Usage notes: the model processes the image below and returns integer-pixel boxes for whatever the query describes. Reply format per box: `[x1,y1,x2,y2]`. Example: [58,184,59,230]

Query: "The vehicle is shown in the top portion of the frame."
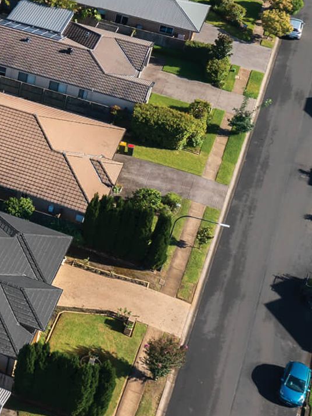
[283,22,304,42]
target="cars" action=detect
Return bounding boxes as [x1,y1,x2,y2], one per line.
[283,22,304,42]
[273,364,312,414]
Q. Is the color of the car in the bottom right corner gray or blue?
blue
